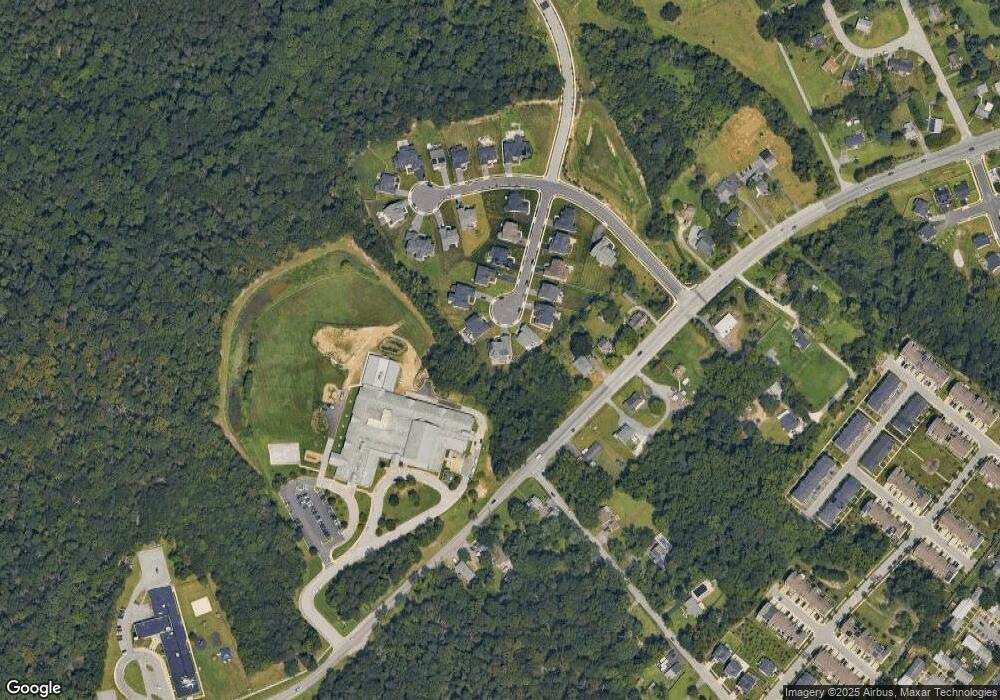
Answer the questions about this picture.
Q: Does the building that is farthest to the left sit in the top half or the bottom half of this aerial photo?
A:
bottom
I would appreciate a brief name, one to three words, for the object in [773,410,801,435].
house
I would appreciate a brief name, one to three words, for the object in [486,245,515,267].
house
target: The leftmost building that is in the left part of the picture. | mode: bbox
[134,585,199,695]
